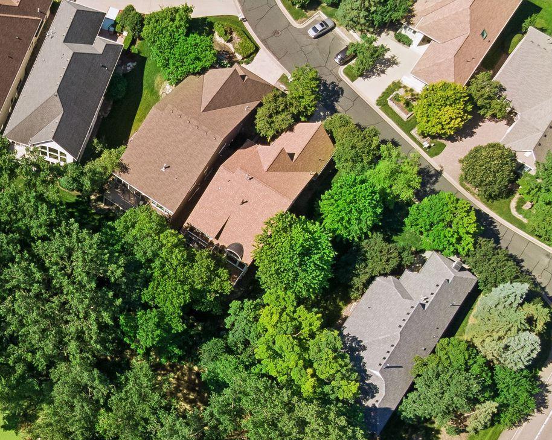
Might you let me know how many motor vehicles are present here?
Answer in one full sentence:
The picture shows 2 motor vehicles.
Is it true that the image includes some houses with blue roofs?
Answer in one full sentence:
No, there appears to be no house with a blue roof in this shot.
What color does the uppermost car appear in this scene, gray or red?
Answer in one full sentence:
The uppermost car looks gray in the image.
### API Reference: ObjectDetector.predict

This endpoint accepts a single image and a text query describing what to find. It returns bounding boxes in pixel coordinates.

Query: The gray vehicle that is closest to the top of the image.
[306,18,338,39]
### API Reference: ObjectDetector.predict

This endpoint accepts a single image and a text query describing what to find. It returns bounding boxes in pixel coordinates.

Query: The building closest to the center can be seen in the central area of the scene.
[182,121,334,287]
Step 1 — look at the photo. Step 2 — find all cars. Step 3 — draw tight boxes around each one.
[306,18,338,39]
[332,42,359,65]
